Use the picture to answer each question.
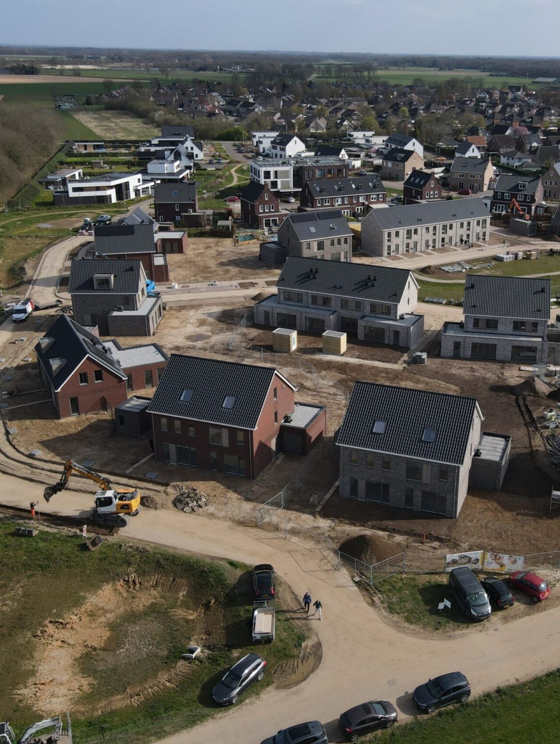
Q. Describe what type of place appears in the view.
residential area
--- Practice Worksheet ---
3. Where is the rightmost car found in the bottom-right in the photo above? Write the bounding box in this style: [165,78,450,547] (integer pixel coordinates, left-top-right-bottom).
[506,566,558,604]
